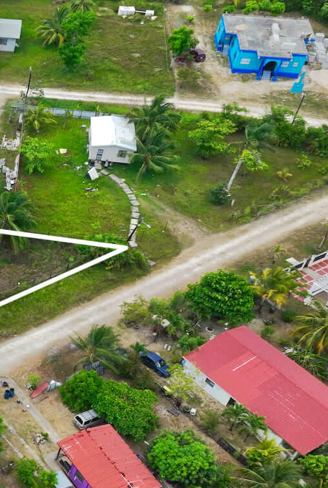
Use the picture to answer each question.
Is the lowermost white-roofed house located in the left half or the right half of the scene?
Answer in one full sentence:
It is on the left.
